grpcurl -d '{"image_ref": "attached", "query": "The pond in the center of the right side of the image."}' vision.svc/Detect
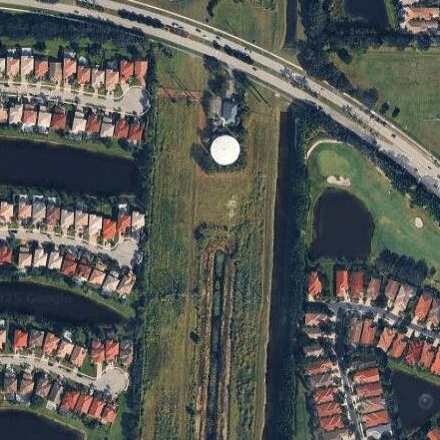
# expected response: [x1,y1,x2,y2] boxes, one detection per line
[311,187,375,260]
